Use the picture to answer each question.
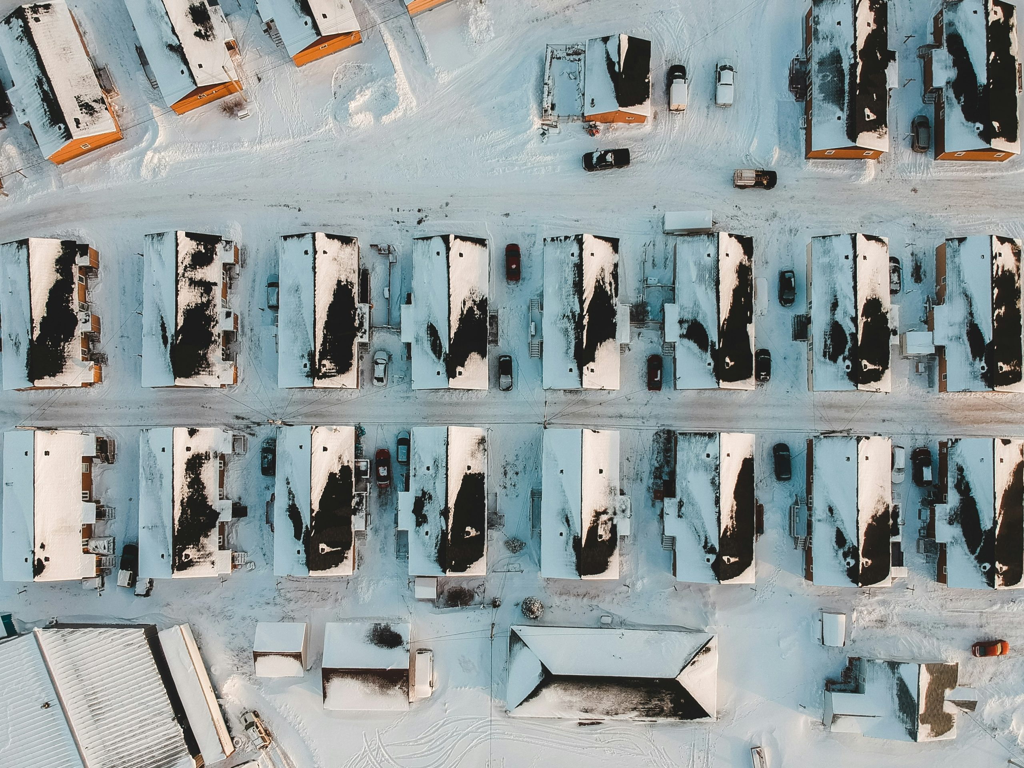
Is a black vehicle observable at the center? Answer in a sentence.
Yes, at the center there is a black vehicle.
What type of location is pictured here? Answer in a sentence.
This image shows a residential area.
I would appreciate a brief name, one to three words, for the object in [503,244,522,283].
car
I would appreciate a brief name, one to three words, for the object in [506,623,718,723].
building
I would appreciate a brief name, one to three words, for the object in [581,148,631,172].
truck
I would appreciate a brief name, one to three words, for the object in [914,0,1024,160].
house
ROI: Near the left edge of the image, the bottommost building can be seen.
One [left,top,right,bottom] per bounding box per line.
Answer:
[0,620,211,768]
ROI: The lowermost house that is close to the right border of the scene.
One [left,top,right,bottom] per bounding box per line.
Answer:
[823,656,978,744]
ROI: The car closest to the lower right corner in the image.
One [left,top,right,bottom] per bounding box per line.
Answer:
[969,638,1008,657]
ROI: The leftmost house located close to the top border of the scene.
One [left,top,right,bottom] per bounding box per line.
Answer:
[0,0,124,164]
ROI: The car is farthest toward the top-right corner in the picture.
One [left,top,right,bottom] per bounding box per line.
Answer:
[910,116,932,154]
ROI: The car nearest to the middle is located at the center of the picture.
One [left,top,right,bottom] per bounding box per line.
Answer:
[496,355,515,392]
